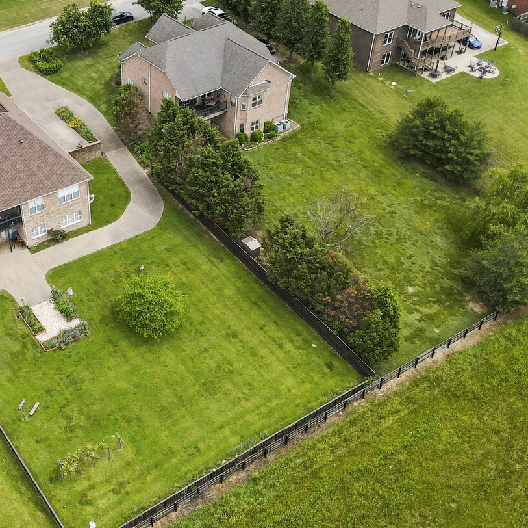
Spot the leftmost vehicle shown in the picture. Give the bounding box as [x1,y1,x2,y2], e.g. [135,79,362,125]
[109,9,135,24]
